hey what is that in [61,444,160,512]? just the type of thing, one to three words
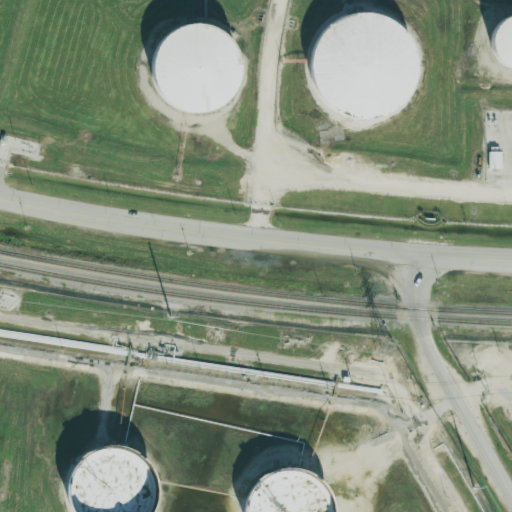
storage tank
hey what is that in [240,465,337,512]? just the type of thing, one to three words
storage tank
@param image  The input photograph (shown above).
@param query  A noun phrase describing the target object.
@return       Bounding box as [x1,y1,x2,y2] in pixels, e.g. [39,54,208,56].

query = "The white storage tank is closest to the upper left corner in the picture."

[150,20,247,113]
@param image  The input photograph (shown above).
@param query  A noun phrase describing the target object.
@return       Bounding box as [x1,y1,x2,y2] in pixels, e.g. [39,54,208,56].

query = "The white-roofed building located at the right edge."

[488,148,504,170]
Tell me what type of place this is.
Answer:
industrial area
